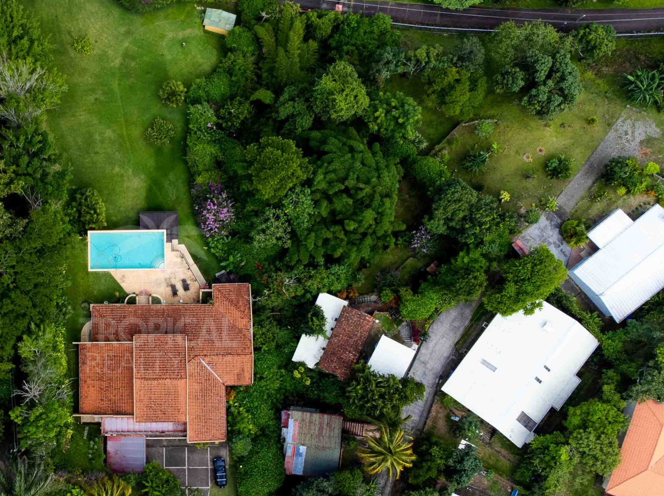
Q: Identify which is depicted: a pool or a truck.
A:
pool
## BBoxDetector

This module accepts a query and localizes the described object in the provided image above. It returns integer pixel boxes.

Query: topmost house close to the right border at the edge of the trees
[563,204,664,324]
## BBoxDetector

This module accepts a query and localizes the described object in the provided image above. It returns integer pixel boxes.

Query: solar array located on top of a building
[516,412,537,433]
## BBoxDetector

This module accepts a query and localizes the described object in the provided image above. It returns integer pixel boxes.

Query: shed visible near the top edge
[203,8,237,36]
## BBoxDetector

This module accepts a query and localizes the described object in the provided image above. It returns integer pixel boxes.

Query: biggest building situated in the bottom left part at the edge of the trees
[72,283,254,444]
